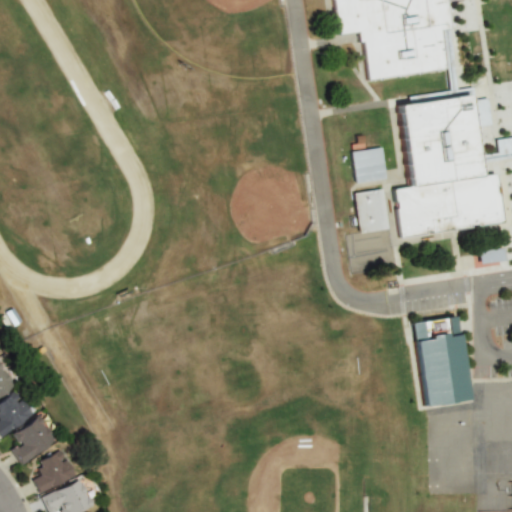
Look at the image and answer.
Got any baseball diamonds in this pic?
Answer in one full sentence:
Yes, the image includes a baseball diamond.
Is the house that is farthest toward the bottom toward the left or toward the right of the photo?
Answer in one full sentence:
The house that is farthest toward the bottom is on the left side of the image.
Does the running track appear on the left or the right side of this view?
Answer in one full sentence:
The running track appears in the left half of the scene.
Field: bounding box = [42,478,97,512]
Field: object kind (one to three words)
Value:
house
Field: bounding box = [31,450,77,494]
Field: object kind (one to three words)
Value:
house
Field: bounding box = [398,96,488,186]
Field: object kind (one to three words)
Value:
building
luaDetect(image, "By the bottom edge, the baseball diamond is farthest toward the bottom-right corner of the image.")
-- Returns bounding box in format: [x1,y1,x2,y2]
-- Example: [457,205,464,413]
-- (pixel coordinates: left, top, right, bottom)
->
[249,436,341,512]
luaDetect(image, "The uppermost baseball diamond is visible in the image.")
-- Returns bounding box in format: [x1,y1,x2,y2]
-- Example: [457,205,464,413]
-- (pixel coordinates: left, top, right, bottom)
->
[132,0,294,80]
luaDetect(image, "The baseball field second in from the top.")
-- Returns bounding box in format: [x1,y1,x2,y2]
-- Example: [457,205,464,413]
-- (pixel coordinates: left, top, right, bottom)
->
[232,167,310,242]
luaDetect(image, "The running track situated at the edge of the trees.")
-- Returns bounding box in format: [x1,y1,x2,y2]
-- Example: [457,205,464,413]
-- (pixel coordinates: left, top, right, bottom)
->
[0,0,154,299]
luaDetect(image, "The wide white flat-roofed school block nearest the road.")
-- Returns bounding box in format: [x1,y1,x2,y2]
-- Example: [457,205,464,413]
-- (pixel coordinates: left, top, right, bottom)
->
[393,174,504,237]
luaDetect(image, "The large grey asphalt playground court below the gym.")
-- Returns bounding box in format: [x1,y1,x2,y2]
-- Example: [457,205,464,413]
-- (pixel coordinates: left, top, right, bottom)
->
[427,384,512,512]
